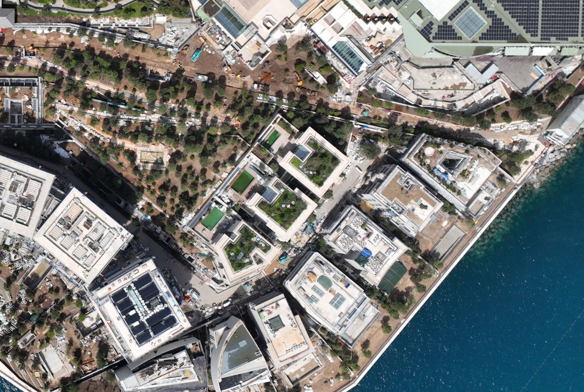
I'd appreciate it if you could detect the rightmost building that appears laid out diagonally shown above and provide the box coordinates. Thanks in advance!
[539,74,584,144]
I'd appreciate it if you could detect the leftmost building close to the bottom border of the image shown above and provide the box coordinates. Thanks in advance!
[39,345,67,379]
